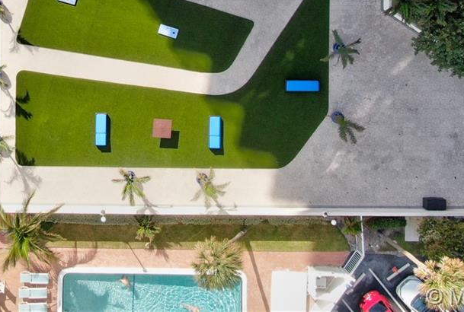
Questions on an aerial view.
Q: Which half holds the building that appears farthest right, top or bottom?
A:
bottom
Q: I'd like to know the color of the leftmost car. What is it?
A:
red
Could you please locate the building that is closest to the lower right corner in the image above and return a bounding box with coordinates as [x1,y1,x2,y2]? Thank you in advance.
[301,258,355,312]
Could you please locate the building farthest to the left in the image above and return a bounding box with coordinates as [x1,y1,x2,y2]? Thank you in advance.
[268,264,308,312]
